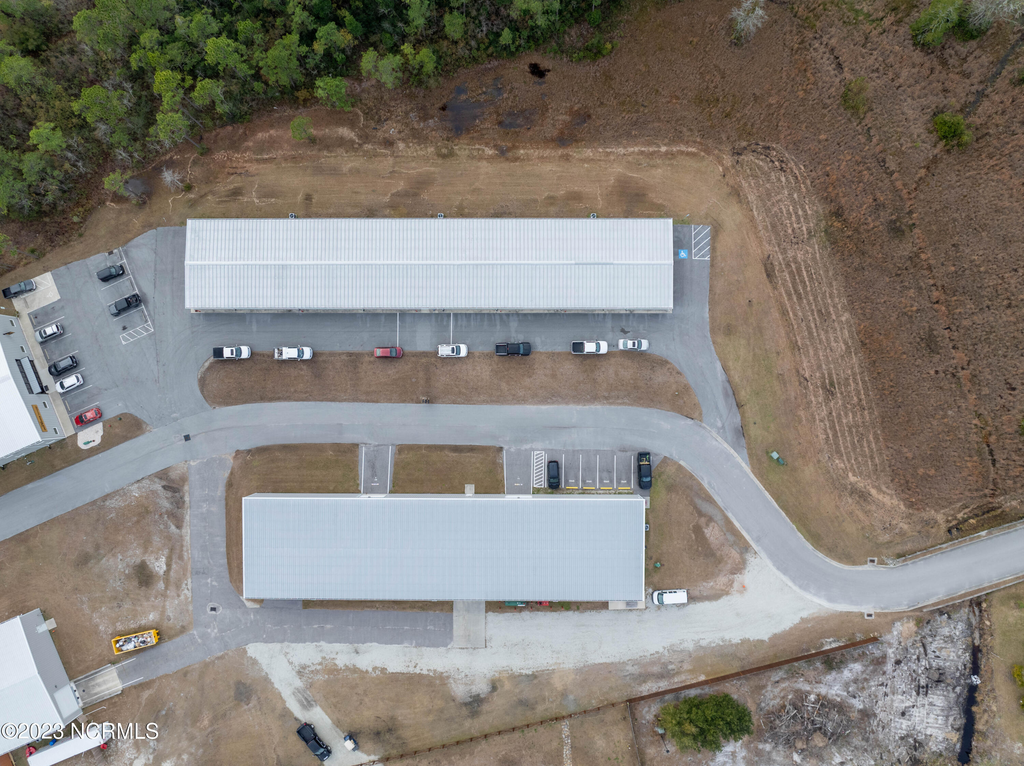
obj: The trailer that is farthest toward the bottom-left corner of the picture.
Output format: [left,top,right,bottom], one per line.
[18,721,115,766]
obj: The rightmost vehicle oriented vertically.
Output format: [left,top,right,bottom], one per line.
[637,452,653,489]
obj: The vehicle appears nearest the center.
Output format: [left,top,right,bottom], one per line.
[495,343,532,357]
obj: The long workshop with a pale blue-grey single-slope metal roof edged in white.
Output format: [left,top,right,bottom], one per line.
[241,492,646,601]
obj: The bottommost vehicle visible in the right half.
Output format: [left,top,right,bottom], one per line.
[651,588,689,605]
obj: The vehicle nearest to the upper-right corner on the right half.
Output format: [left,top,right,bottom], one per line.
[618,337,649,352]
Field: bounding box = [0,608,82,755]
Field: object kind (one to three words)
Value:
building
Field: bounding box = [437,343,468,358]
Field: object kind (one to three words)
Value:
car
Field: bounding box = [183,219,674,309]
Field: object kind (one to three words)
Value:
building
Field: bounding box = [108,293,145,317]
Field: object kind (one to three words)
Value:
truck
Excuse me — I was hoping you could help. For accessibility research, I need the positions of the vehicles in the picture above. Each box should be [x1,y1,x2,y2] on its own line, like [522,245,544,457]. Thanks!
[495,343,532,357]
[213,345,252,360]
[93,263,128,285]
[571,339,607,355]
[374,347,404,360]
[437,343,468,358]
[108,293,145,317]
[35,322,66,343]
[274,345,313,361]
[75,407,105,427]
[651,588,689,605]
[637,452,653,489]
[344,734,359,752]
[296,722,330,759]
[48,354,82,377]
[618,337,649,352]
[547,460,561,490]
[56,373,87,394]
[0,277,38,302]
